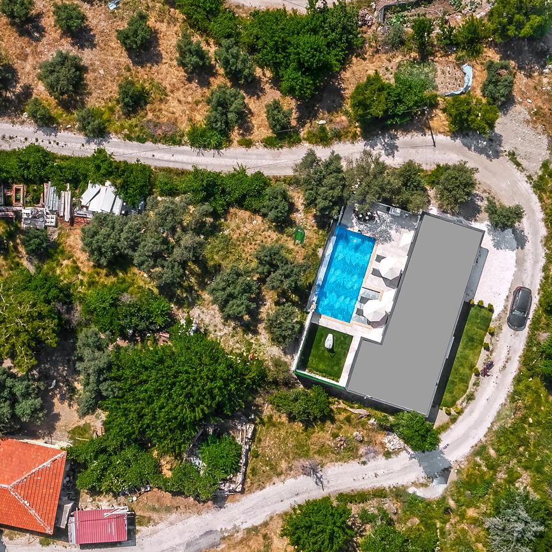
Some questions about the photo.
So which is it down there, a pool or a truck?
pool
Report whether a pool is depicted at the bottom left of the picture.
No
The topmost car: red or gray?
gray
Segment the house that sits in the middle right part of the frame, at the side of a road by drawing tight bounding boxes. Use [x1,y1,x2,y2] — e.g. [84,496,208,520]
[346,211,484,417]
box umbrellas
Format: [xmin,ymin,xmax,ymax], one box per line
[364,299,386,322]
[399,229,416,249]
[379,256,402,279]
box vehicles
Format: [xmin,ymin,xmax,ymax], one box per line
[506,286,532,330]
[482,360,497,377]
